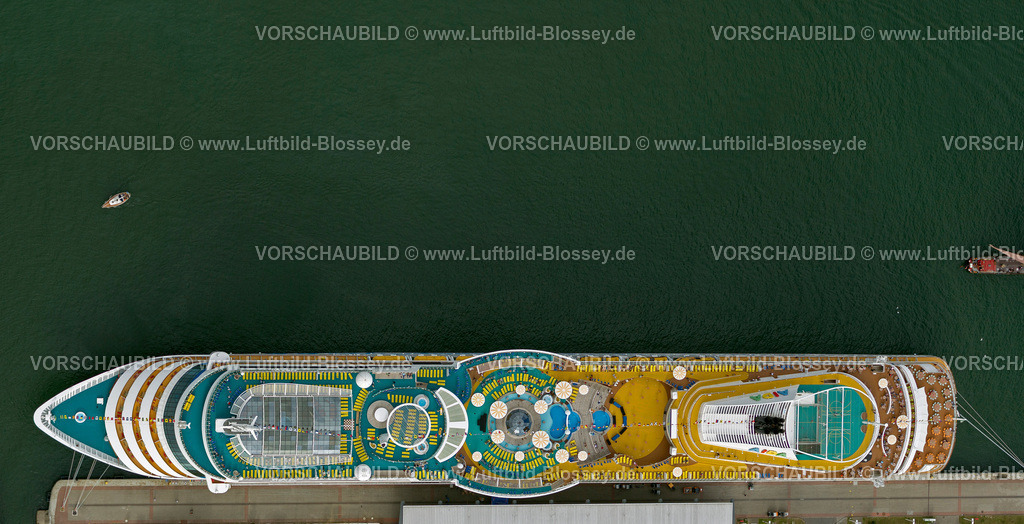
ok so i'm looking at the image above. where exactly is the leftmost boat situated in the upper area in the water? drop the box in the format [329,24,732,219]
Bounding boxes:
[102,192,131,208]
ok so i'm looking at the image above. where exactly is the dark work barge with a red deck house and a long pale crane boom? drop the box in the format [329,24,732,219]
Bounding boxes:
[962,243,1024,275]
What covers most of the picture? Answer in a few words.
water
